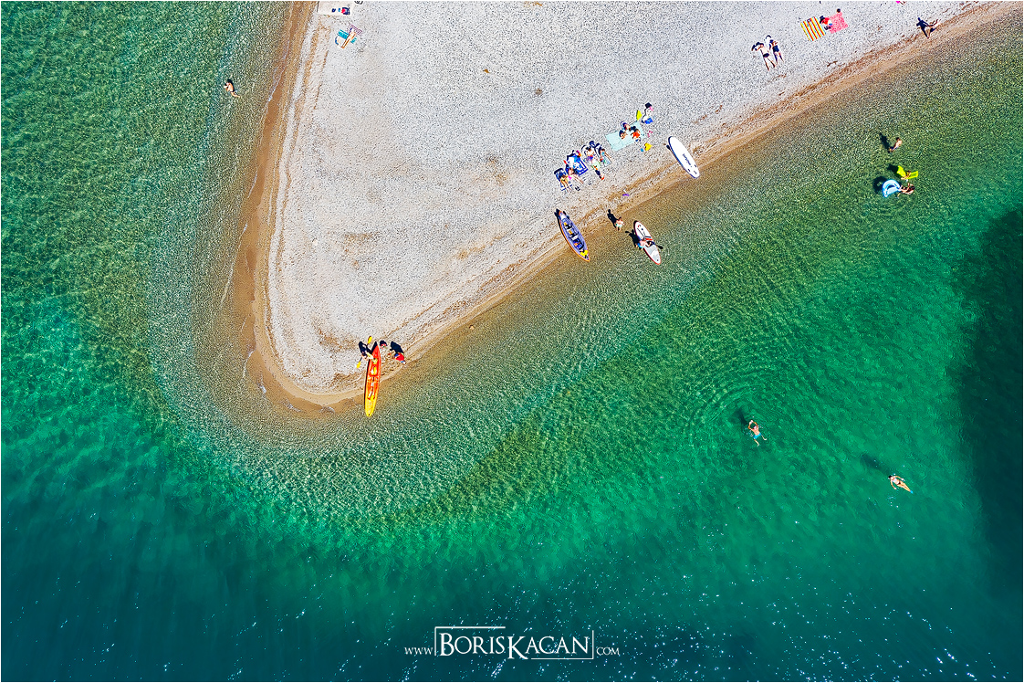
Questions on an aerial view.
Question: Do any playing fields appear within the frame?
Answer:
No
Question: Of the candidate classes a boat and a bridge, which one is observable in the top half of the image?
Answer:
boat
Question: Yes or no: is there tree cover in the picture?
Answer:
No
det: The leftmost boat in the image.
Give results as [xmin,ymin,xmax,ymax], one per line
[364,344,380,417]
